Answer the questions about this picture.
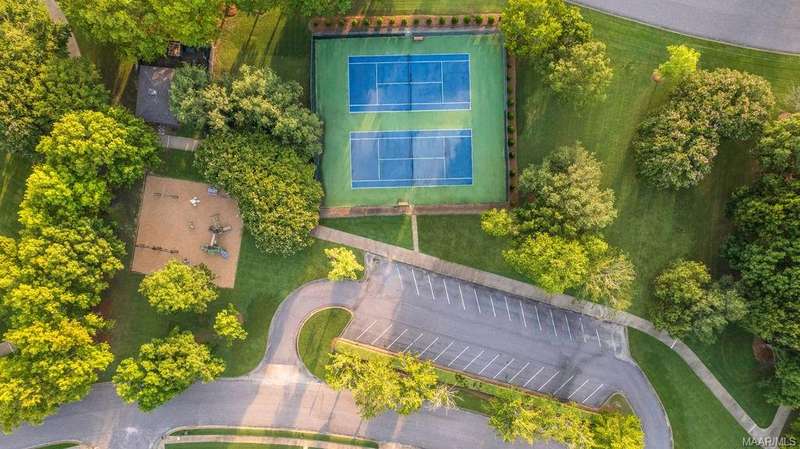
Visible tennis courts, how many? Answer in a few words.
2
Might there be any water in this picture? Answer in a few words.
No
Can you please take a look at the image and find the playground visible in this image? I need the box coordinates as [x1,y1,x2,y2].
[131,176,243,289]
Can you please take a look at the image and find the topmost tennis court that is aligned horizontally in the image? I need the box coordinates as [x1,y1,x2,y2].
[316,36,505,123]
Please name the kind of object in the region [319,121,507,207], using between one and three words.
tennis court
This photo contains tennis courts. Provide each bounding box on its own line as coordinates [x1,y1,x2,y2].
[316,36,505,123]
[319,121,507,207]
